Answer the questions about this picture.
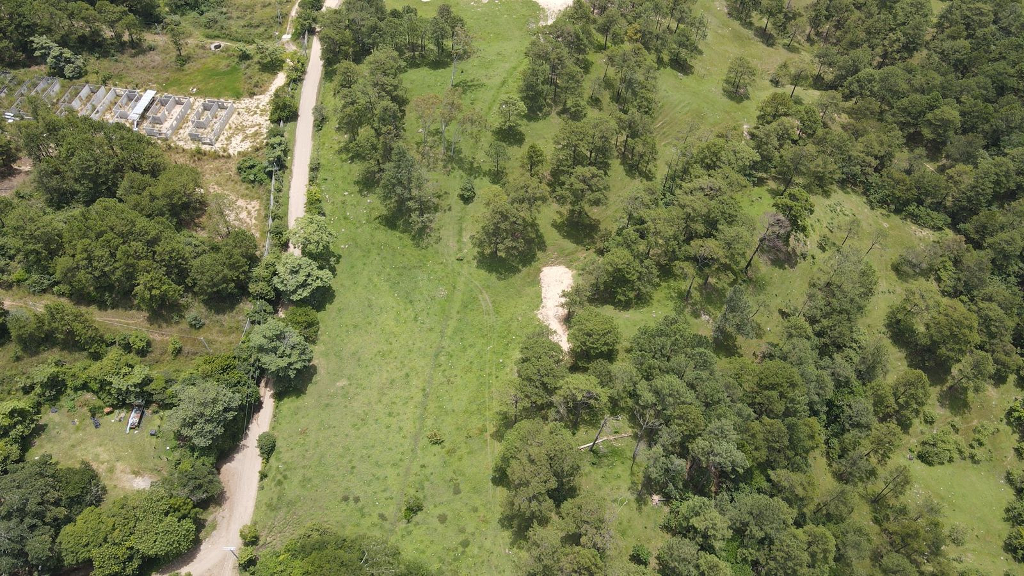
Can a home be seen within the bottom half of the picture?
No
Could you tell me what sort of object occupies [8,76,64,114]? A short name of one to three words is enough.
house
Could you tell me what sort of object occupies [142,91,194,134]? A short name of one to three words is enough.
house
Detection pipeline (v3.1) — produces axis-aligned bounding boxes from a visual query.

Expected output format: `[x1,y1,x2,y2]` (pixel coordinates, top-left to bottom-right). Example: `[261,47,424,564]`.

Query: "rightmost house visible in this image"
[188,97,238,140]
